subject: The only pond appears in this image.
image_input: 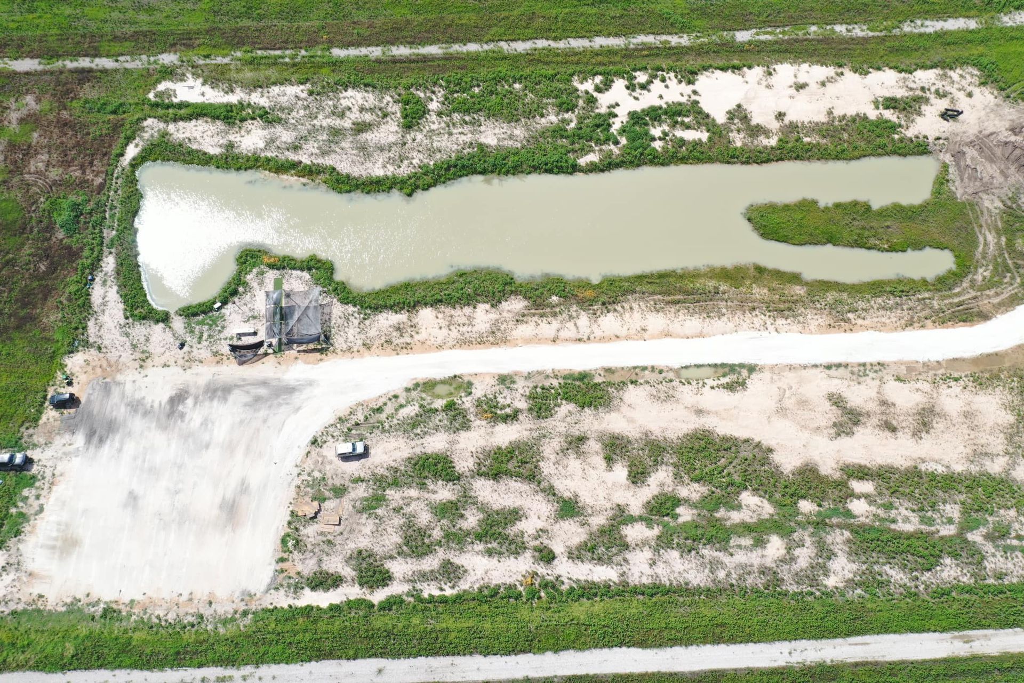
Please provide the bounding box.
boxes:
[133,154,956,313]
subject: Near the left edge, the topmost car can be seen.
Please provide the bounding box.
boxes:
[48,396,79,412]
